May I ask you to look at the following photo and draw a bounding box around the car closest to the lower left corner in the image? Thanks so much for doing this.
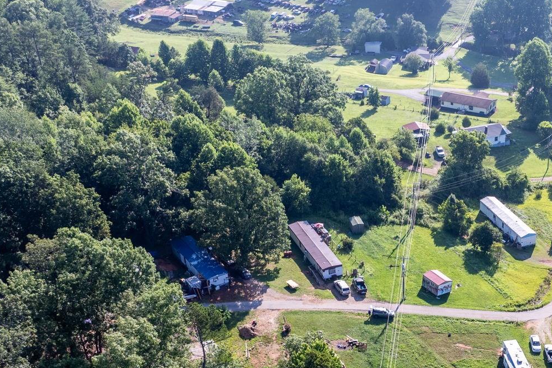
[236,265,253,280]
